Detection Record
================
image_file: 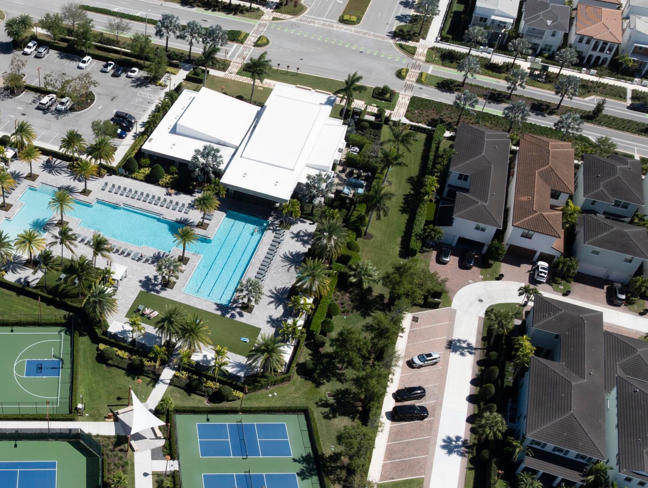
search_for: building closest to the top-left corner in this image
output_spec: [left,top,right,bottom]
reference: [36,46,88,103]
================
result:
[141,84,347,223]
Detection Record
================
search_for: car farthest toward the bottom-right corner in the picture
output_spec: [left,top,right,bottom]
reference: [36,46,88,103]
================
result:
[609,282,628,306]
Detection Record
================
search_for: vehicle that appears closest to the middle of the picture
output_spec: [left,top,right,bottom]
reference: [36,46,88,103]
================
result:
[438,243,454,264]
